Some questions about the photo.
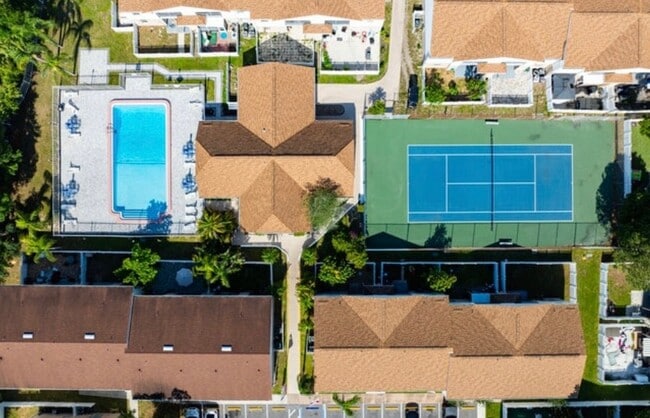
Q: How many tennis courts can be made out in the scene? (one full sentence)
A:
The count comes to 1 tennis court.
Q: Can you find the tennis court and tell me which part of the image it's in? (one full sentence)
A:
The tennis court is located in the right region of the scene.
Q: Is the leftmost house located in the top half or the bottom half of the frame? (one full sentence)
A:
You can find the leftmost house in the bottom half.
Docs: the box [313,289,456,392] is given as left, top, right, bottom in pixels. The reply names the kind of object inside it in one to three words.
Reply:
house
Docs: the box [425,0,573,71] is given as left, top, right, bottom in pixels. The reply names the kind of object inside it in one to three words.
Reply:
house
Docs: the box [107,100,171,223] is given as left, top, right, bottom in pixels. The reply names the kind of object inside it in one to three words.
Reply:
swimming pool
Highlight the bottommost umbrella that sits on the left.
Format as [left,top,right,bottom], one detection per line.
[176,265,195,284]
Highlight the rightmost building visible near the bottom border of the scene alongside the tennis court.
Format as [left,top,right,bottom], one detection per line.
[449,296,589,399]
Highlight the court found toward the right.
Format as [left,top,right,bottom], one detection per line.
[364,119,617,249]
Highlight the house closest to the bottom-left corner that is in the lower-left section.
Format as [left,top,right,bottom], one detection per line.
[0,284,145,390]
